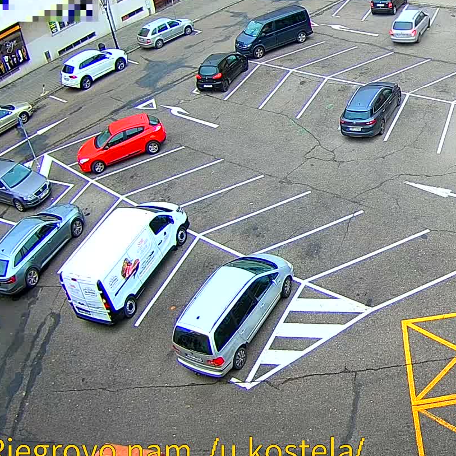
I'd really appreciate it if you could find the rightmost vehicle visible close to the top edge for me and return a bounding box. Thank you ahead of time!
[389,11,430,42]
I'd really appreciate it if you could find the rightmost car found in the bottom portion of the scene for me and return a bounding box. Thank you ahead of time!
[167,255,291,381]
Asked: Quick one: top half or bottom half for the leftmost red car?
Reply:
top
